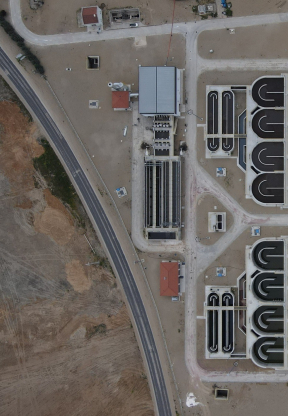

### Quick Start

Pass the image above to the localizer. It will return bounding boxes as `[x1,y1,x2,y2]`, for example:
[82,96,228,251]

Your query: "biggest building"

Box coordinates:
[139,66,180,115]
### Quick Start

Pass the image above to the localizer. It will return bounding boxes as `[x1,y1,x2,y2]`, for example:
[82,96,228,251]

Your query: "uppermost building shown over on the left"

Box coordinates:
[81,5,103,31]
